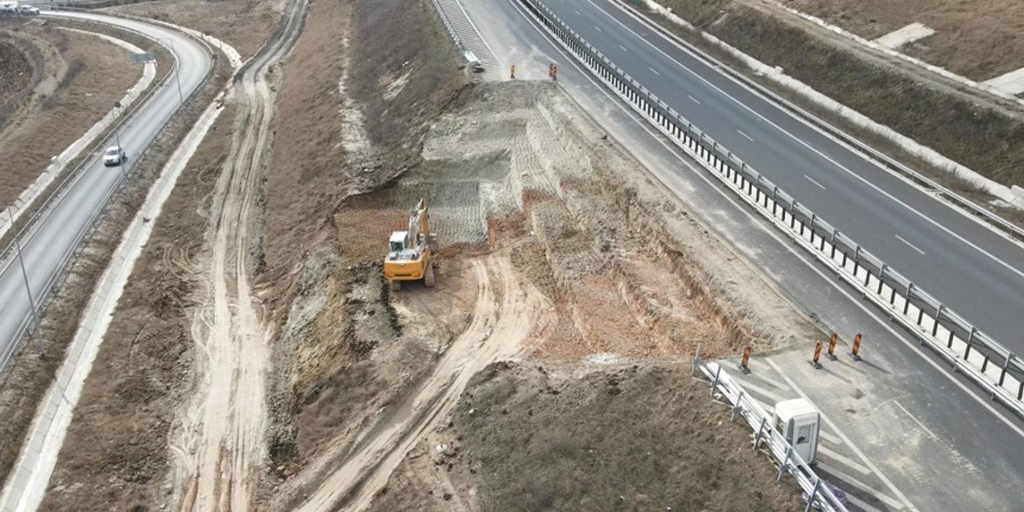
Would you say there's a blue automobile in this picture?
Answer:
No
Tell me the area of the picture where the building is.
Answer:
bottom right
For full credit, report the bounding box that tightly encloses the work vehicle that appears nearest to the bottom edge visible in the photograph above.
[387,193,433,286]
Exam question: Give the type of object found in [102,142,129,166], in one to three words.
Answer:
car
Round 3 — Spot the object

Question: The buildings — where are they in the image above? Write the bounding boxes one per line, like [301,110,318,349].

[776,404,821,467]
